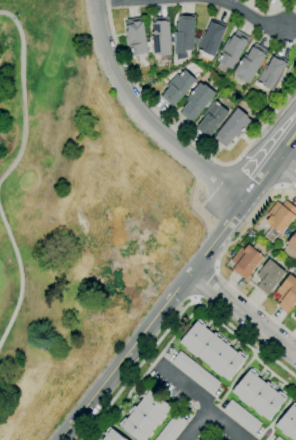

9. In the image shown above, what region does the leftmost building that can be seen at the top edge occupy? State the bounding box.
[128,20,148,55]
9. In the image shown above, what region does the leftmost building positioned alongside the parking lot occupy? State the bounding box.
[120,392,170,440]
